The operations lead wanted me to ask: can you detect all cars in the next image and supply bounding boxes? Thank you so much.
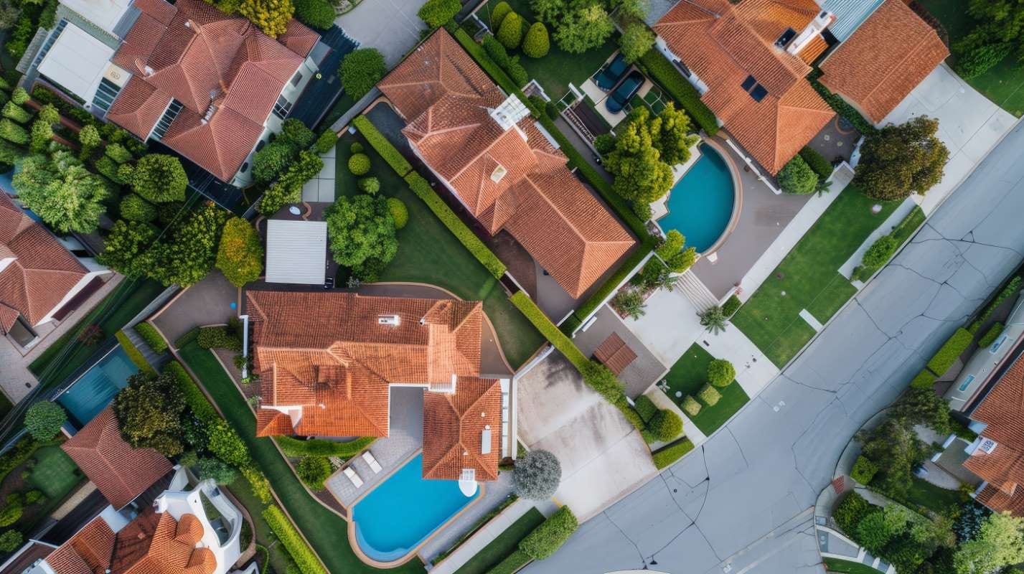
[595,44,633,92]
[606,66,645,117]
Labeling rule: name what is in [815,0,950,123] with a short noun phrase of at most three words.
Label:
building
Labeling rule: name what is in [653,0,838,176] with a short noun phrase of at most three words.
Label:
house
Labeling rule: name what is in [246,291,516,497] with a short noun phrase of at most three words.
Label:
house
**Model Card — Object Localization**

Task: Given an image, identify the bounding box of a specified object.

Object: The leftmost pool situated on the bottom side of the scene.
[57,346,144,427]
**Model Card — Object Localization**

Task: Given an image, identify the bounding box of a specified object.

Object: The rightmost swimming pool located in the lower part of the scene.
[347,448,485,566]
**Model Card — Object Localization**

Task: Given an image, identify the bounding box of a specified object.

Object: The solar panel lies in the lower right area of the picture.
[972,433,998,456]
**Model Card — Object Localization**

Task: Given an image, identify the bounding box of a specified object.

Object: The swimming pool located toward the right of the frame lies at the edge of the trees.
[655,134,744,263]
